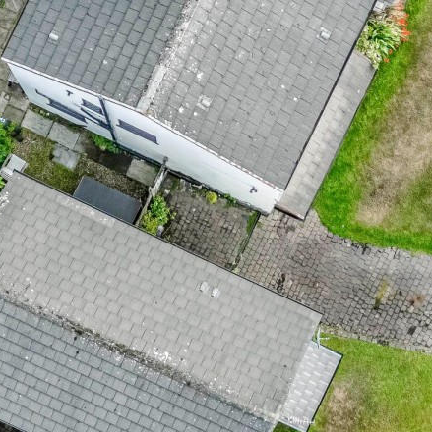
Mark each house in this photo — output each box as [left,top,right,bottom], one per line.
[0,0,379,220]
[0,173,344,432]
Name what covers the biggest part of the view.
buildings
